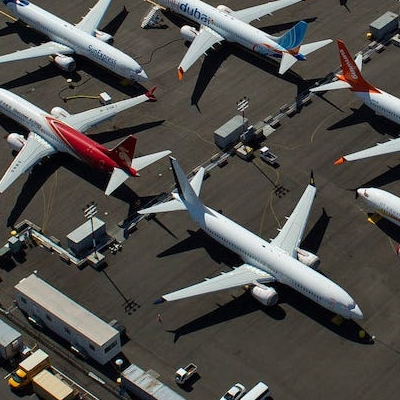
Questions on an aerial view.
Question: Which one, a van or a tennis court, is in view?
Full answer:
Looking from above, you can make out a van.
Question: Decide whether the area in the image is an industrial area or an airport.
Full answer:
What you see here is an airport.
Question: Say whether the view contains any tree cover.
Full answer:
No, there's no tree cover in this view.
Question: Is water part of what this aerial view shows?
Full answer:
No, there's no water in this view.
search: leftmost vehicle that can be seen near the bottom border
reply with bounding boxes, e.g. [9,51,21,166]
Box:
[7,349,46,392]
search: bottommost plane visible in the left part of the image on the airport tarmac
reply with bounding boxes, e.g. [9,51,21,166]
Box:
[0,86,172,194]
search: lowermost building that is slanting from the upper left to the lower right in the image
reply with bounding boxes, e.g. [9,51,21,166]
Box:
[15,274,125,358]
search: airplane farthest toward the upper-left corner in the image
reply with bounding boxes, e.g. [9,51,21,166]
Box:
[0,0,145,79]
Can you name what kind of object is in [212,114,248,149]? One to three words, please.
shed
